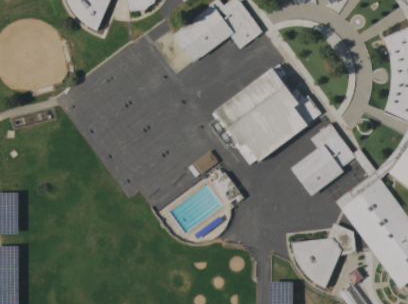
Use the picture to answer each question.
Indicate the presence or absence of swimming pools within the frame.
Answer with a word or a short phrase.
Yes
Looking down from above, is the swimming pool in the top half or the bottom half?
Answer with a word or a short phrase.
bottom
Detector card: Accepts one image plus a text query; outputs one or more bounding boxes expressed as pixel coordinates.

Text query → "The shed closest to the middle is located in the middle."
[188,152,218,177]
